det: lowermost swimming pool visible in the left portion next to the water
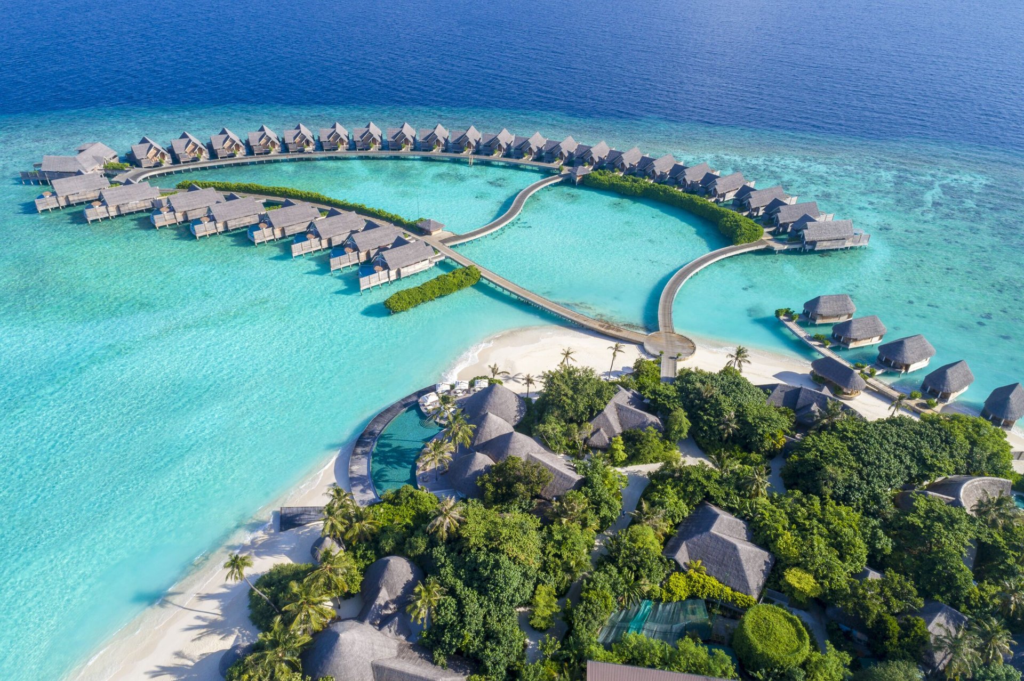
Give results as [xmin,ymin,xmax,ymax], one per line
[370,400,444,506]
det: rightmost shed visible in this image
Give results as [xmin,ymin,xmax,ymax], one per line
[967,384,1024,433]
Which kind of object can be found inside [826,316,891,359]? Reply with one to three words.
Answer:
shed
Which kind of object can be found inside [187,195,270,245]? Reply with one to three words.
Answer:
house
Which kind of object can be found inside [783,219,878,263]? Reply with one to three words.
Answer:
house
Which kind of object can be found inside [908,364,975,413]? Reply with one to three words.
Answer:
shed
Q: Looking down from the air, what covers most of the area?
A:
water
